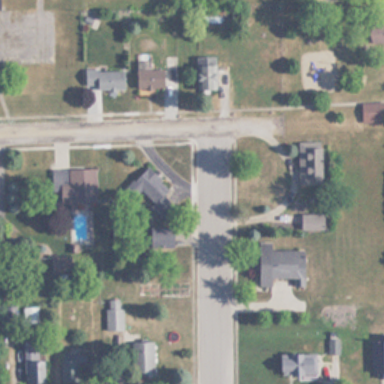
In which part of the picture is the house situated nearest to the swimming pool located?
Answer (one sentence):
The house situated nearest to the swimming pool sits in the left section of the image.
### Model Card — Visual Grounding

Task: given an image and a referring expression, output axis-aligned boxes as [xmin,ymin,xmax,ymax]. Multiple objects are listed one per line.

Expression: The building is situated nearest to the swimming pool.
[52,168,97,210]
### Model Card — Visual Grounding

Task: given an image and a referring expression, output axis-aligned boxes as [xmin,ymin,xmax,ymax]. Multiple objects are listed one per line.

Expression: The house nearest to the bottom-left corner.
[24,352,46,384]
